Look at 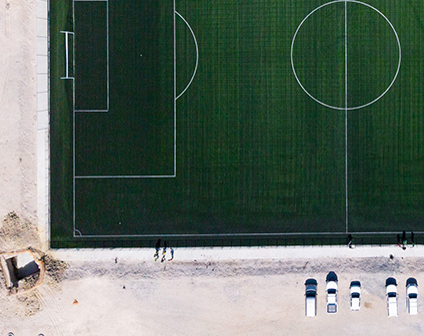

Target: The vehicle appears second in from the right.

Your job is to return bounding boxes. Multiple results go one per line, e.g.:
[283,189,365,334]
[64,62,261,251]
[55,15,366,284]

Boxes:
[384,283,397,317]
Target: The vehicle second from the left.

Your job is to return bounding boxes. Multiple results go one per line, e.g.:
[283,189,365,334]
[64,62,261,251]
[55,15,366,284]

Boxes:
[325,277,338,313]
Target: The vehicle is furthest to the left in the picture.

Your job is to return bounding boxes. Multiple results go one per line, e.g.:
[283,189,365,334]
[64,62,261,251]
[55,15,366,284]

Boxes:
[304,285,318,316]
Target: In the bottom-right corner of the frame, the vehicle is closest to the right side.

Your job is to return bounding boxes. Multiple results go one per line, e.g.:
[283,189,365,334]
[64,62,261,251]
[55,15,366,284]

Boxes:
[404,284,419,315]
